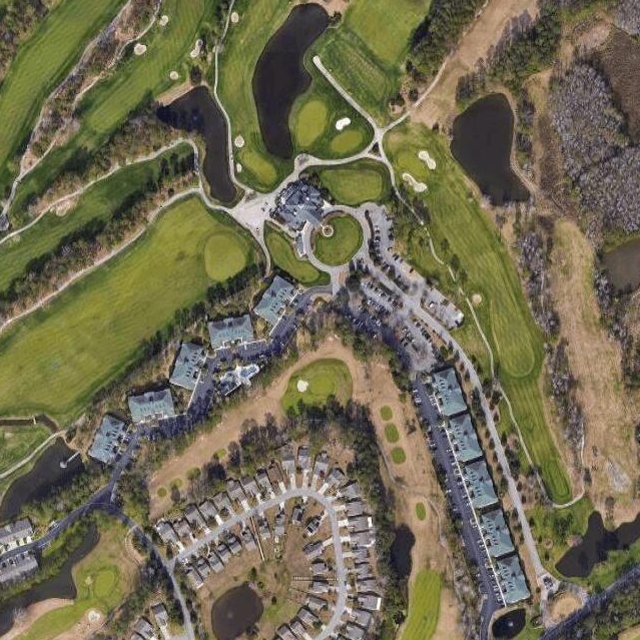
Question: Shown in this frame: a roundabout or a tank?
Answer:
roundabout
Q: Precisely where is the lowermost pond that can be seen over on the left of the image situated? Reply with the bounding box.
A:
[210,579,266,640]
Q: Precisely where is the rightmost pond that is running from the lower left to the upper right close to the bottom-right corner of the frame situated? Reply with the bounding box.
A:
[555,512,640,577]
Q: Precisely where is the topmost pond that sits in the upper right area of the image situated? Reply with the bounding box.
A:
[449,92,532,205]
